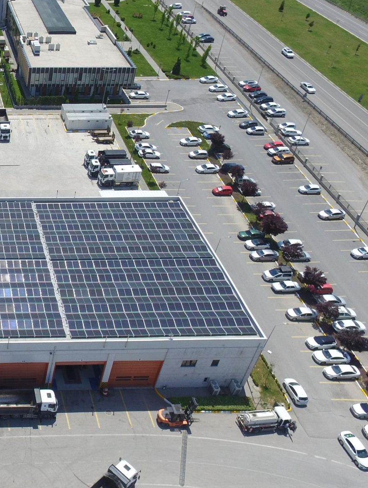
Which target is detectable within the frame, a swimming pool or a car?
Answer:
car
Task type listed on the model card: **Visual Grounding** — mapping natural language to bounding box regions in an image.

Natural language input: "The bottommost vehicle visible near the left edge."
[0,392,63,426]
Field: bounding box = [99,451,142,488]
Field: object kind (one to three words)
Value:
truck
